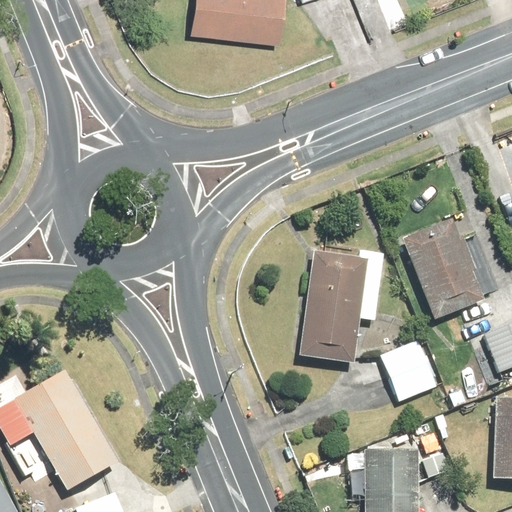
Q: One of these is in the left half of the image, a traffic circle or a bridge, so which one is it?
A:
traffic circle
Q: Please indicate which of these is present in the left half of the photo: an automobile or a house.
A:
house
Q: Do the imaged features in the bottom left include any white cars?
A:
No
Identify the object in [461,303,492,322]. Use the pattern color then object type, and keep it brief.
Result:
white car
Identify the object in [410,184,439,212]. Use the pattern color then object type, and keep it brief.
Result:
white car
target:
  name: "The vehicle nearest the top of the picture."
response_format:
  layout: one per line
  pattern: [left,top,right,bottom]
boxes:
[416,50,444,66]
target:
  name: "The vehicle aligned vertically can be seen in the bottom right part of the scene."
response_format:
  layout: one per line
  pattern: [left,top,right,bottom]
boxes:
[462,366,479,398]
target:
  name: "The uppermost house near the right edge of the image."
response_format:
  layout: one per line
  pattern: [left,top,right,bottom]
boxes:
[404,218,496,318]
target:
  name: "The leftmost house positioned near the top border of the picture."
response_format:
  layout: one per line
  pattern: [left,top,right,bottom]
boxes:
[190,0,289,46]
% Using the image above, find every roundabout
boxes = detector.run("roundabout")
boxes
[52,143,197,281]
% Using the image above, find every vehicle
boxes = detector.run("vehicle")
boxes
[410,184,439,212]
[416,50,444,66]
[504,80,512,92]
[461,303,492,322]
[462,366,479,398]
[498,190,512,226]
[460,321,492,340]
